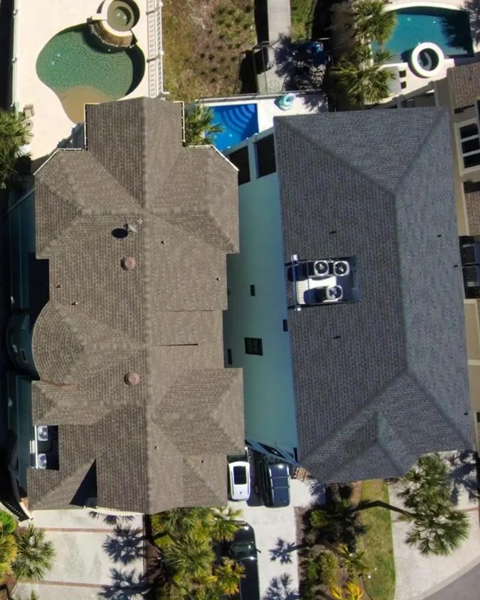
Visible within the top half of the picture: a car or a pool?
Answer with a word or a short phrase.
pool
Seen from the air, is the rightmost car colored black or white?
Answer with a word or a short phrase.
black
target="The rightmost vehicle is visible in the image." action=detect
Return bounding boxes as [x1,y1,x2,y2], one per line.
[255,445,294,506]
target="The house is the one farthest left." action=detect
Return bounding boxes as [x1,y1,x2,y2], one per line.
[5,97,245,516]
